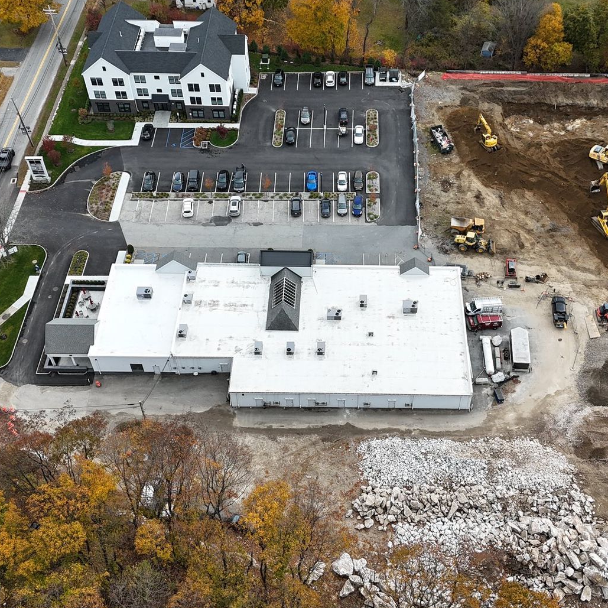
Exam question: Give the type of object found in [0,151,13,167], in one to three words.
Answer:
vehicle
